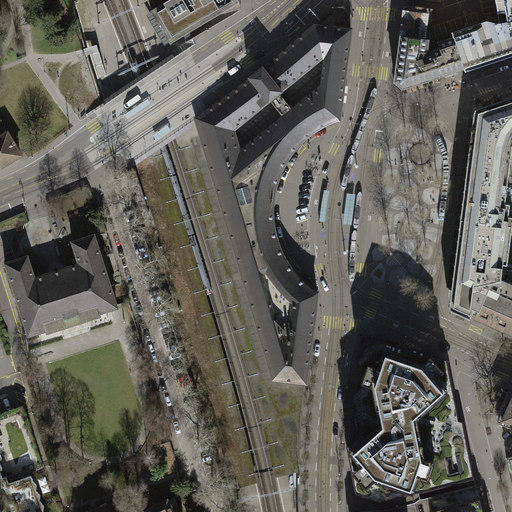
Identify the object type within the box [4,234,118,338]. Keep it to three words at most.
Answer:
building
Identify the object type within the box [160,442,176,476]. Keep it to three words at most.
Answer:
shed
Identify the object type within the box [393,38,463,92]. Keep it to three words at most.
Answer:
building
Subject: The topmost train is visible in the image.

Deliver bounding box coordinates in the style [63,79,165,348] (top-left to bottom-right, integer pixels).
[351,88,376,154]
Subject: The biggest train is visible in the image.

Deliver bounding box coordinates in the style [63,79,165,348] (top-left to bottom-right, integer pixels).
[164,144,212,294]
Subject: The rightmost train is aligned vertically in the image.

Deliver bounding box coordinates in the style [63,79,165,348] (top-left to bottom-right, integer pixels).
[435,135,448,222]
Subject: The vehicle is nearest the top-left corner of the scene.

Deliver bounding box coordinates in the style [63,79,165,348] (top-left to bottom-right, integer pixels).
[123,95,140,108]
